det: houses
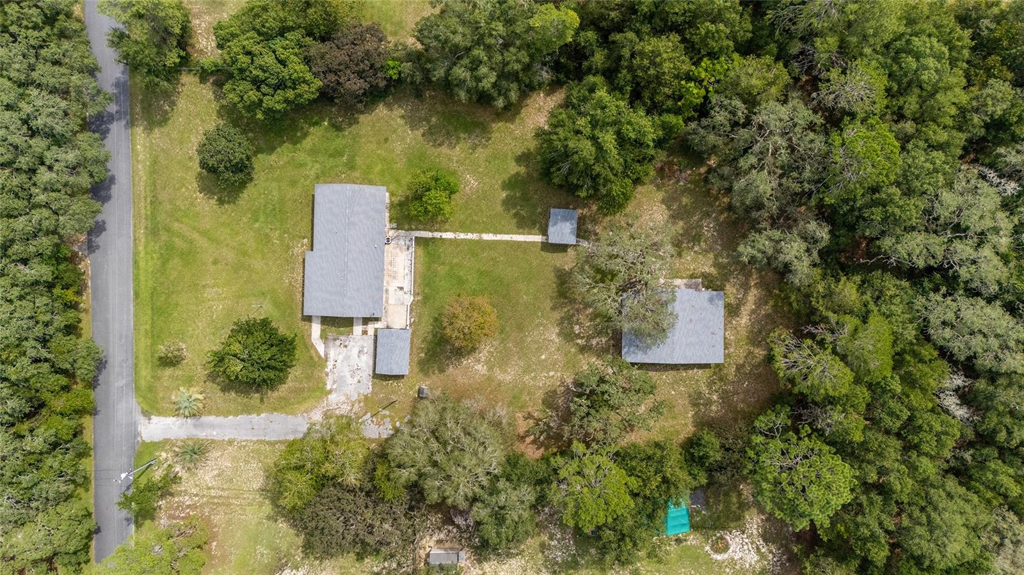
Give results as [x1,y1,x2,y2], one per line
[302,184,386,318]
[622,291,724,364]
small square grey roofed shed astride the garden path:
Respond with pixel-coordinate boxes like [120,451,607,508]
[549,209,577,244]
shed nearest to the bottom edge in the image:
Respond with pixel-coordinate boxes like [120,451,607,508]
[430,545,461,567]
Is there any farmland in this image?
No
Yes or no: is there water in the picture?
No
